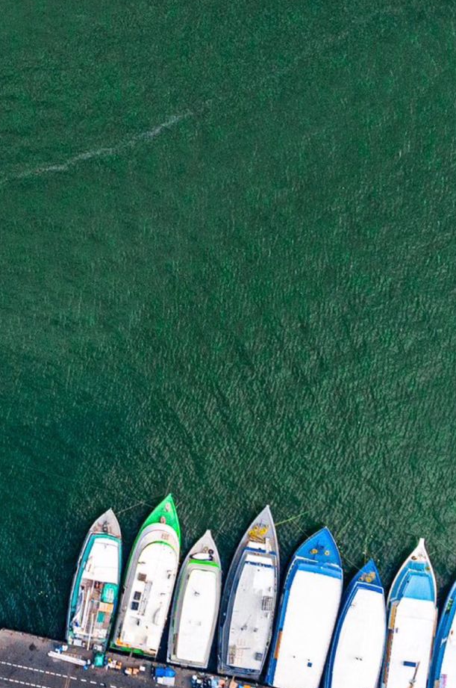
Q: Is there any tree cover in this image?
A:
No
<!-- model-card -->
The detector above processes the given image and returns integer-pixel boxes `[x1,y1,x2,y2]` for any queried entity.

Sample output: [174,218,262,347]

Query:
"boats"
[167,527,222,667]
[217,506,280,680]
[265,527,343,688]
[379,536,437,688]
[190,553,213,562]
[324,559,387,688]
[429,582,456,688]
[110,494,181,658]
[66,508,122,650]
